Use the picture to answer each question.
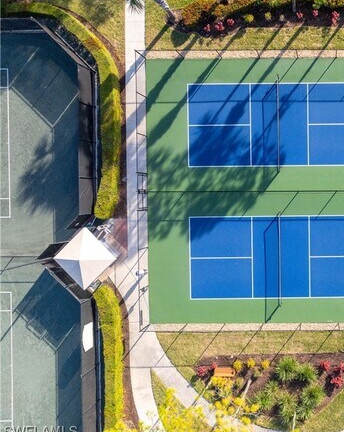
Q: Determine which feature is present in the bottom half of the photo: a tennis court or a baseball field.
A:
tennis court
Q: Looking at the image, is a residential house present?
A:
No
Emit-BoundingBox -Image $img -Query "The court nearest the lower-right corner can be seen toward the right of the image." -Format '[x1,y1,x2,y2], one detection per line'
[147,191,344,324]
